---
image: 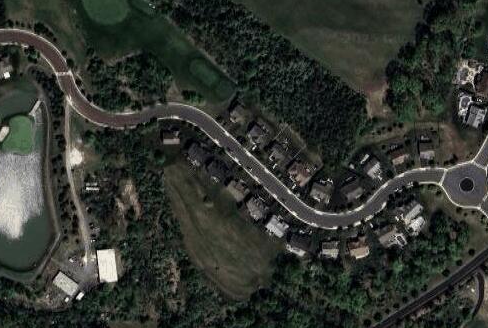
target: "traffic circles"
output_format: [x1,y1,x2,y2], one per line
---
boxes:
[443,161,488,208]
